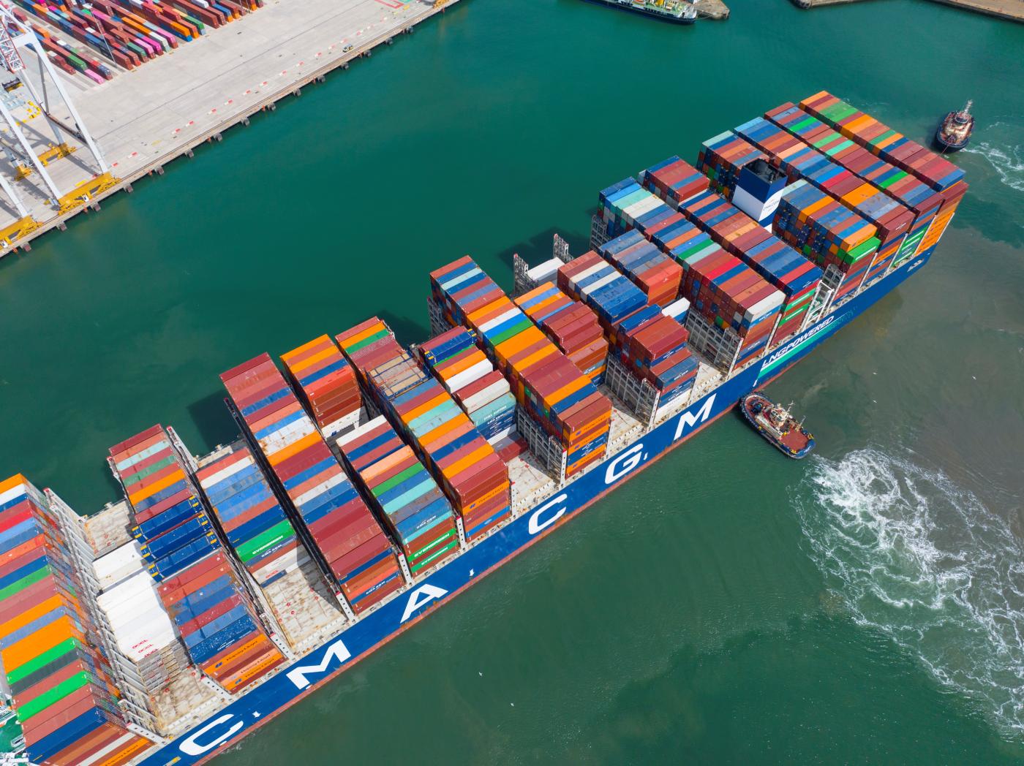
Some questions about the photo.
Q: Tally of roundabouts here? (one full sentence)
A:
The picture shows no roundabouts.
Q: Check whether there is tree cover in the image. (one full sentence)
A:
No, the scene doesn't show any tree cover.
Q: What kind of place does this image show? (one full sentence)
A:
The area seen from above is a port.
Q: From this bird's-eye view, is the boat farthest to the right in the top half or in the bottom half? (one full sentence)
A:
The boat farthest to the right is in the top half of the image.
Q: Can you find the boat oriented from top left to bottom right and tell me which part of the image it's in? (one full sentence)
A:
The boat oriented from top left to bottom right is located in the right region of the scene.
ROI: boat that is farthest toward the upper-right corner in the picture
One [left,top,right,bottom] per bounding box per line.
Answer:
[939,102,984,150]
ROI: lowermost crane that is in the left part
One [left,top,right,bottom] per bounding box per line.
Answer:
[0,169,45,246]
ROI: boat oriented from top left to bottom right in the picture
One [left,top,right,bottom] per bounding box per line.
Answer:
[741,393,821,460]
